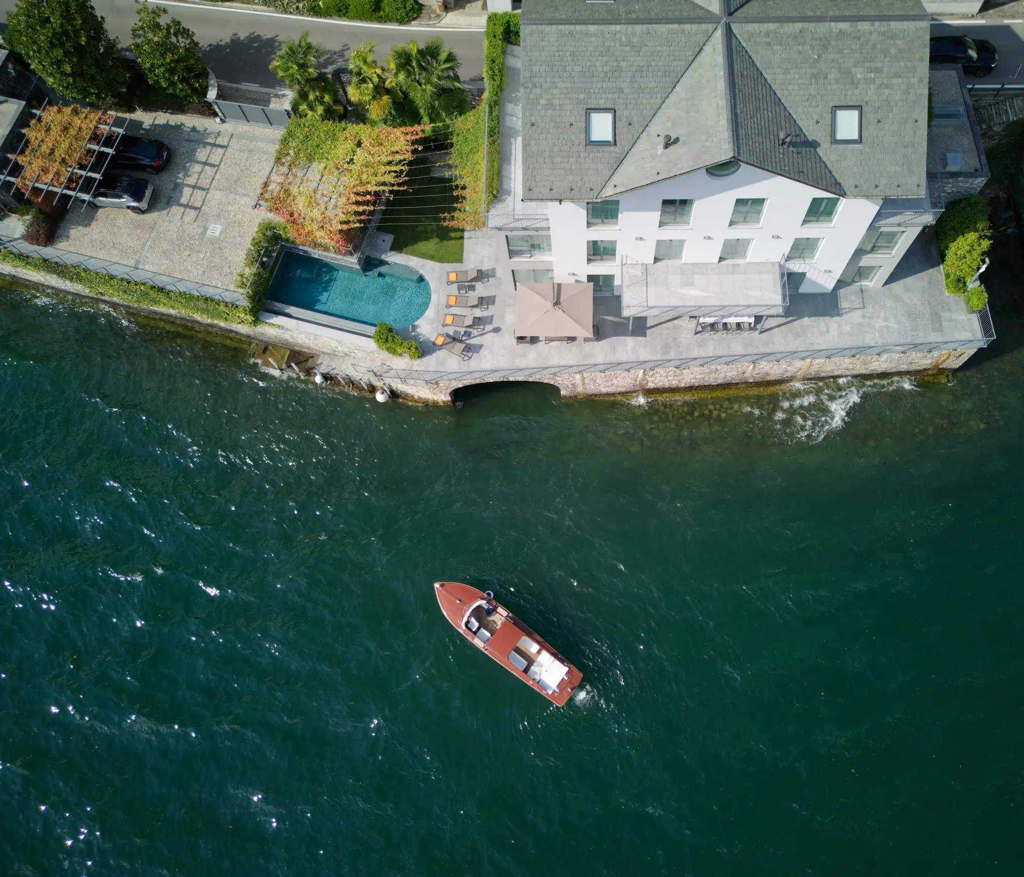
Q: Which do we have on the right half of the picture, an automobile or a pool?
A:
automobile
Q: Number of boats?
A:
one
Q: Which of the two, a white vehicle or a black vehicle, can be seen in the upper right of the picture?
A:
black vehicle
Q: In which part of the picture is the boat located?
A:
bottom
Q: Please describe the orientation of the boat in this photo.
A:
at an angle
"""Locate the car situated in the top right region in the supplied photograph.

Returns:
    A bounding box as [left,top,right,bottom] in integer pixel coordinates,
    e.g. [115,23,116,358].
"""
[928,36,998,78]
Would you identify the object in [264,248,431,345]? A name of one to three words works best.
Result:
swimming pool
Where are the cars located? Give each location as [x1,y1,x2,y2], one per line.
[89,132,169,175]
[928,36,998,78]
[76,167,154,212]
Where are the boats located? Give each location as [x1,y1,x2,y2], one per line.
[433,581,583,707]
